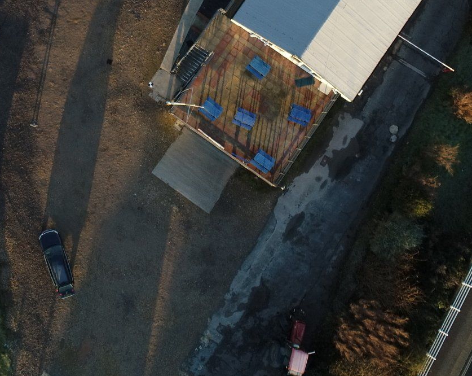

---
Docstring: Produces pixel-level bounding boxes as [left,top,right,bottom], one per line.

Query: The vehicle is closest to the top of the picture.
[38,229,76,297]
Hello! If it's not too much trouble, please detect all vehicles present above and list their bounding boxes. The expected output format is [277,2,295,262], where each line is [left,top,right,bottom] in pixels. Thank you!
[38,229,76,297]
[273,299,314,375]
